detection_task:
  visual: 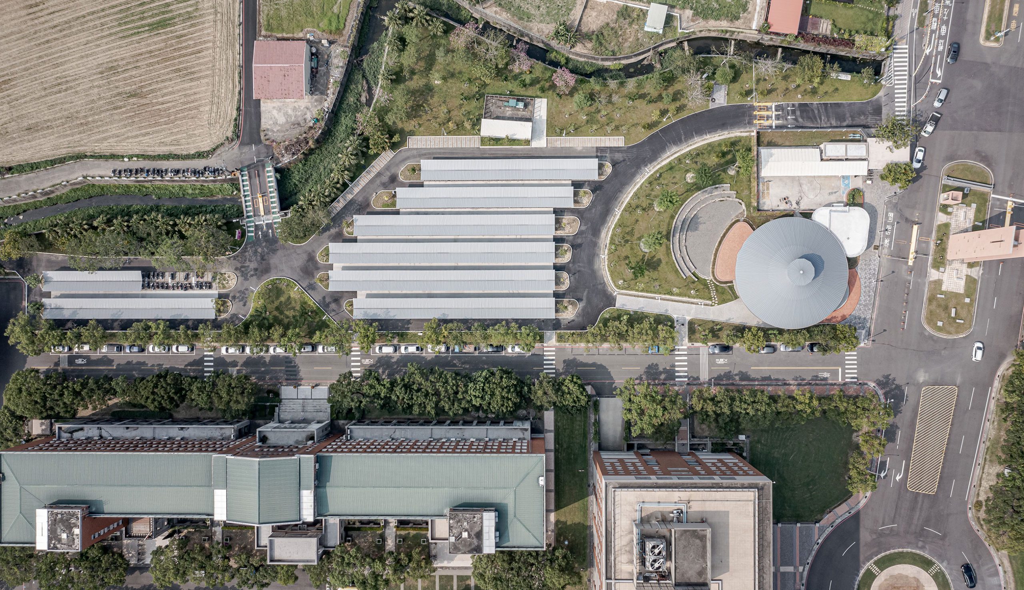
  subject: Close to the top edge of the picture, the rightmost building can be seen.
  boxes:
[762,0,803,40]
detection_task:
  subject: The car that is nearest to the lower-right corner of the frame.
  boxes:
[962,564,976,589]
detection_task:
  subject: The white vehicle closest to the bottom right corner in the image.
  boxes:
[972,342,984,362]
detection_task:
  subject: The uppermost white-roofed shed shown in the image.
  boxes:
[643,2,668,37]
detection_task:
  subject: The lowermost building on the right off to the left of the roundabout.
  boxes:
[589,451,784,590]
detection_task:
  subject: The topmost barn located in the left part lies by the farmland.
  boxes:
[252,40,314,104]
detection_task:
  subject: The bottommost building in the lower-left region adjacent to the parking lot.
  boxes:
[0,417,548,564]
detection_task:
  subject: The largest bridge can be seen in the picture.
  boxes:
[238,163,282,239]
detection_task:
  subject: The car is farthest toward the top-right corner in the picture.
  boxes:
[947,41,960,63]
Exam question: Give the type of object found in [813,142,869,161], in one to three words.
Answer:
building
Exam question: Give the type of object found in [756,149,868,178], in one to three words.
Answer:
shed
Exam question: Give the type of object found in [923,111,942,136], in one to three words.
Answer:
vehicle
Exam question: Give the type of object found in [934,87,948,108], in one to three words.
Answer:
car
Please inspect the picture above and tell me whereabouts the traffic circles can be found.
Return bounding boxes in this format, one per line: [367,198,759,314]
[855,549,953,590]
